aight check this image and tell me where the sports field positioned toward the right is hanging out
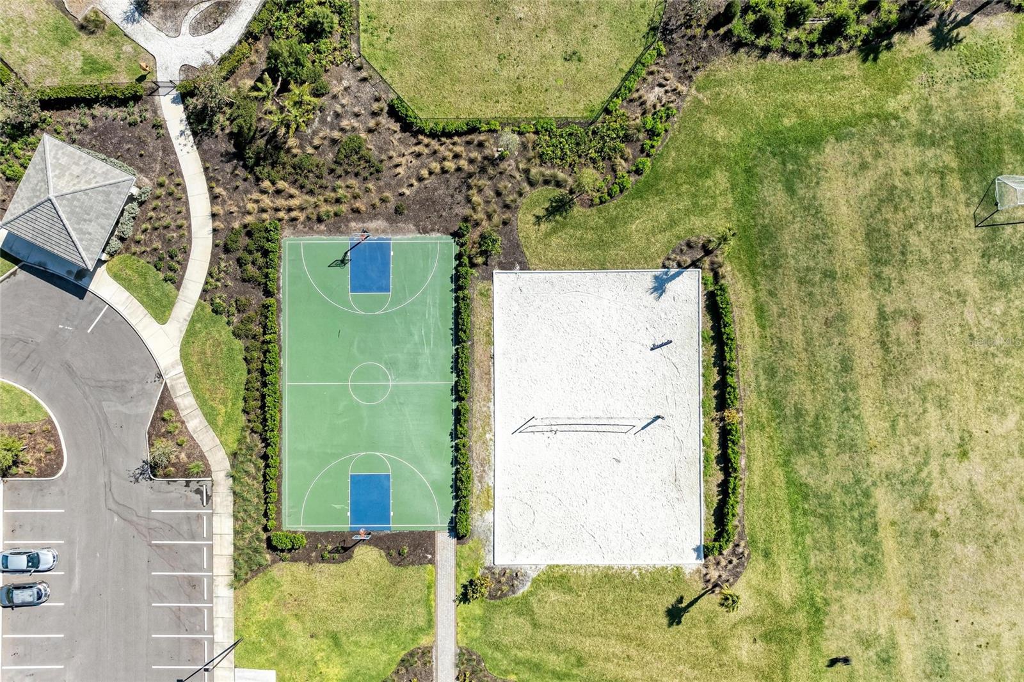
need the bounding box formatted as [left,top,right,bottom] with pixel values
[456,11,1024,682]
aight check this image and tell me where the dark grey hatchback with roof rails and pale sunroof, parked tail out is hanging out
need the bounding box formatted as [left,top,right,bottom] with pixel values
[0,580,52,608]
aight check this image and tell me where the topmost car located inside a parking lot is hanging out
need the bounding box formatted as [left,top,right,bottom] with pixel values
[0,547,59,575]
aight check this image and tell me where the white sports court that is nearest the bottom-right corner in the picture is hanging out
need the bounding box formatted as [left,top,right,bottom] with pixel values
[493,268,704,567]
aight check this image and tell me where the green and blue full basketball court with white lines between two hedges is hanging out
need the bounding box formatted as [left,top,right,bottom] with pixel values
[282,236,456,531]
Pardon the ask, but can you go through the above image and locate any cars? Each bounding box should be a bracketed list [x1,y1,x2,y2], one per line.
[0,547,59,575]
[0,580,52,608]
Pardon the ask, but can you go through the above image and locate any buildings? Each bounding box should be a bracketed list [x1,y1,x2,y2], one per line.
[0,132,140,269]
